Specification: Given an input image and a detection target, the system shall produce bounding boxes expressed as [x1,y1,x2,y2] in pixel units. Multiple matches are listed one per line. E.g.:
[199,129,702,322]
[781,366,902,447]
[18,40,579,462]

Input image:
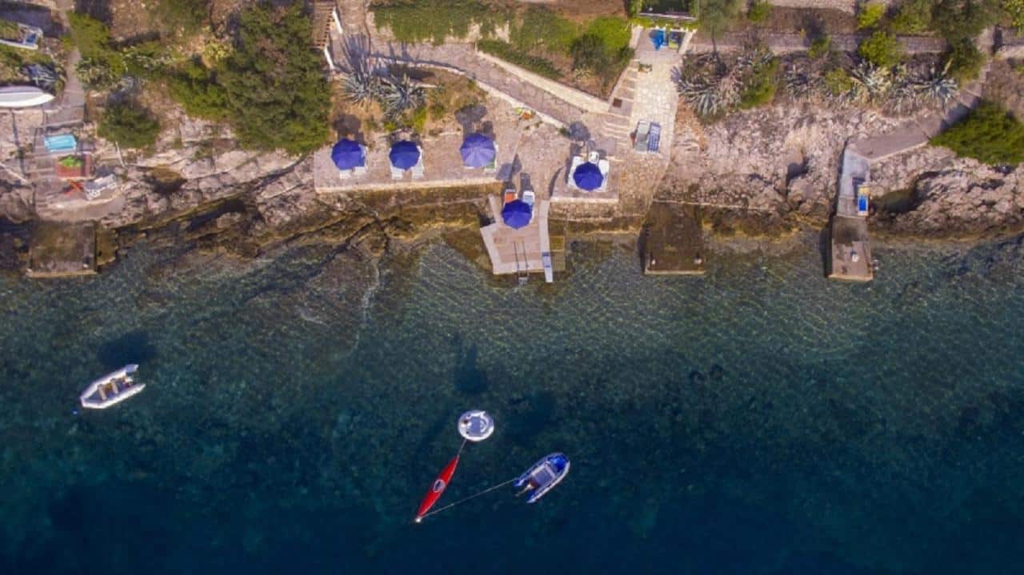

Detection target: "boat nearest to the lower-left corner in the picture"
[78,365,145,411]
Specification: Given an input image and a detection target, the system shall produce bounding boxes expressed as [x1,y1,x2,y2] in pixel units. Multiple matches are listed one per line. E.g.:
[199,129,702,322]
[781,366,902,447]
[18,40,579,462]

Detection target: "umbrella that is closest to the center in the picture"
[502,198,534,230]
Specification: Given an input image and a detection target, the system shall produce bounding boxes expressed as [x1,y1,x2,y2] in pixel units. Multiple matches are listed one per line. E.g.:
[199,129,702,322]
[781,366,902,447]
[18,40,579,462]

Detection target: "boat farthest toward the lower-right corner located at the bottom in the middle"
[514,450,572,503]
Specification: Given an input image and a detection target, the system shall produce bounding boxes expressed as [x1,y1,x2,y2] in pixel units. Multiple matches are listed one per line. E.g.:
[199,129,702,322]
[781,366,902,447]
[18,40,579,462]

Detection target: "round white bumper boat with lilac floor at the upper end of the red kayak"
[457,408,496,443]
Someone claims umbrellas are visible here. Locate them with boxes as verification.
[460,134,496,169]
[390,141,421,171]
[502,198,534,230]
[333,138,368,172]
[571,162,603,193]
[646,31,669,59]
